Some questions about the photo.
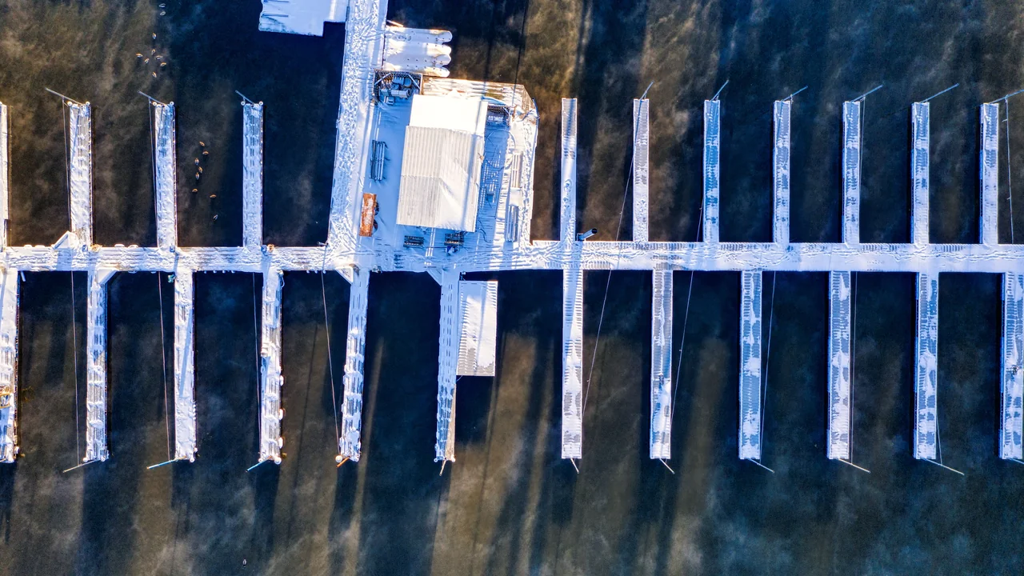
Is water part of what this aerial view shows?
Yes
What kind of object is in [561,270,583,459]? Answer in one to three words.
pier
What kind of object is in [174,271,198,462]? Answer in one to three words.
pier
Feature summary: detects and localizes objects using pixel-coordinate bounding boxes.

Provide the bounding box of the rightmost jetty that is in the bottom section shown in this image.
[996,273,1024,459]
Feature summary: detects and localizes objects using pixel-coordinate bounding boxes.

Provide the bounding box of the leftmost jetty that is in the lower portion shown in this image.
[0,271,22,463]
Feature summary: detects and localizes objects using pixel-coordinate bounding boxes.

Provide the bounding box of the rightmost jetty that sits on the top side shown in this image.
[976,103,999,244]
